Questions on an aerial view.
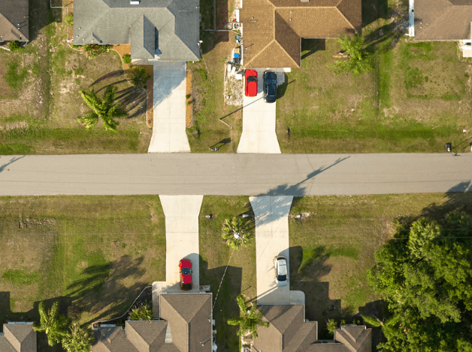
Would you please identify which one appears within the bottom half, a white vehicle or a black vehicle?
white vehicle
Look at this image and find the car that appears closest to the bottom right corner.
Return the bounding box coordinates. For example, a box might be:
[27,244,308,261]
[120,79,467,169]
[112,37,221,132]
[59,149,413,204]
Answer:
[274,255,291,287]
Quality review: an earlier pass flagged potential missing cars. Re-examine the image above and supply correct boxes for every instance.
[178,259,194,291]
[262,71,279,103]
[274,255,291,287]
[244,70,260,97]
